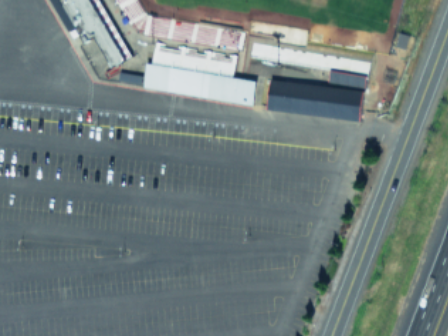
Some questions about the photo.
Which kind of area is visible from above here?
parking lot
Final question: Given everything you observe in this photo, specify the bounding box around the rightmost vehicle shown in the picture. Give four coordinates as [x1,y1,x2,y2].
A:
[419,273,438,308]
